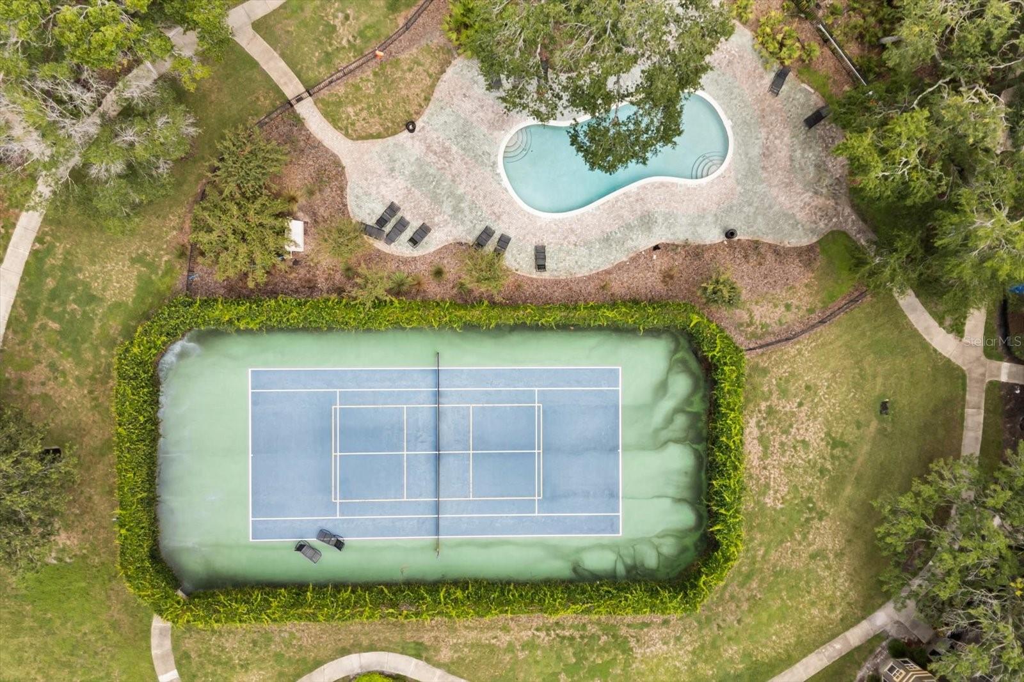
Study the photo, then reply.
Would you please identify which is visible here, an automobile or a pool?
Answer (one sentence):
Of the two, only a pool appears.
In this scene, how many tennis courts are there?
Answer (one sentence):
Only 1 tennis court is visible.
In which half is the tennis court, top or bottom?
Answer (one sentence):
It is in the bottom half that the tennis court appears.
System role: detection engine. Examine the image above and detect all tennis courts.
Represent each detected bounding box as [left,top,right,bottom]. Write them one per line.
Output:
[155,325,711,591]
